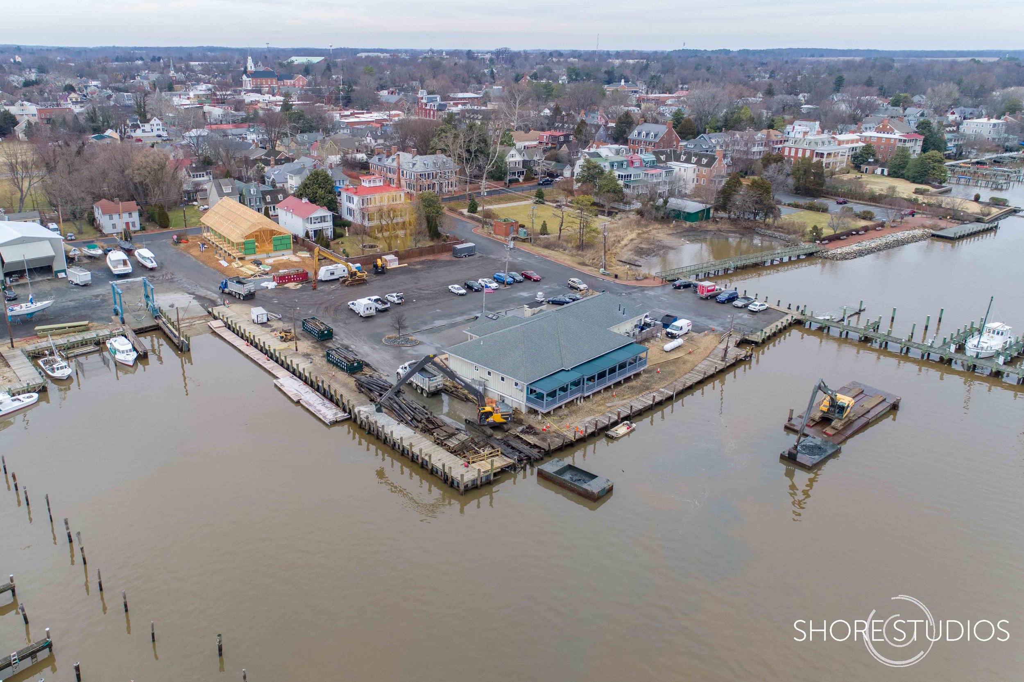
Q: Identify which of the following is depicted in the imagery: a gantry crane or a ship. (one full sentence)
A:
It is a ship that can be seen here.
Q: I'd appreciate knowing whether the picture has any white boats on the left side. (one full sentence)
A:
Yes, a white boat shows up on the left side.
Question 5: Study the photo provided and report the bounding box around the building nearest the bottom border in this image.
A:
[444,292,655,415]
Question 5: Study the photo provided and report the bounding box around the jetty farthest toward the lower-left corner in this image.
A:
[0,626,58,672]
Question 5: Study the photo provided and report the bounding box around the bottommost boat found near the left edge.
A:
[0,387,45,413]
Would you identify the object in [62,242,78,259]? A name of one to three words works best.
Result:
boat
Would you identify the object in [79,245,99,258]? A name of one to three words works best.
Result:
boat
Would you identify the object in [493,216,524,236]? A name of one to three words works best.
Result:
building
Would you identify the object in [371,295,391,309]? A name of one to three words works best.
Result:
vehicle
